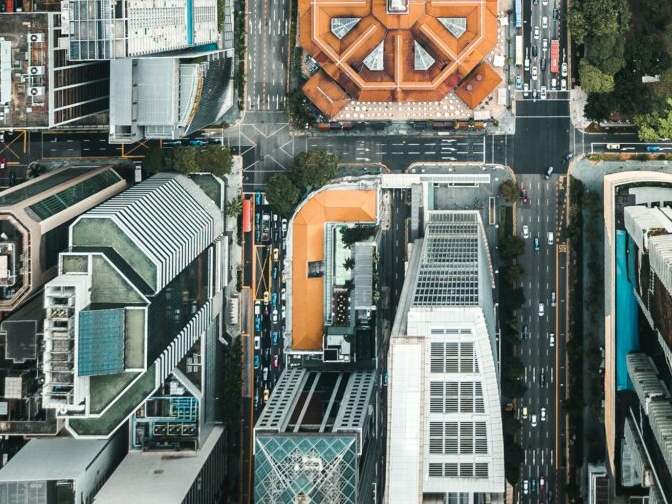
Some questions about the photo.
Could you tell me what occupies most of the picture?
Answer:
buildings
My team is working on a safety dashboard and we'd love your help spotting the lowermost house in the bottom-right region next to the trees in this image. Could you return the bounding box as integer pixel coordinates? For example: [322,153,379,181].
[588,465,611,504]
